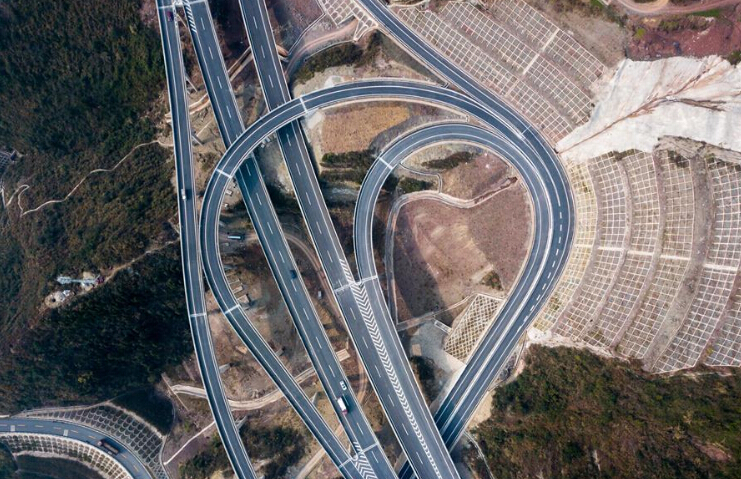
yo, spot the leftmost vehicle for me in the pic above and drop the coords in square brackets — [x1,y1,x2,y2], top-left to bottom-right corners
[97,441,116,456]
